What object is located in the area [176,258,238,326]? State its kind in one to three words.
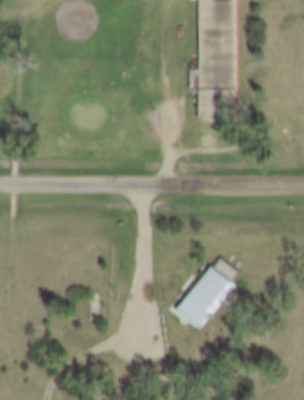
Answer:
house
